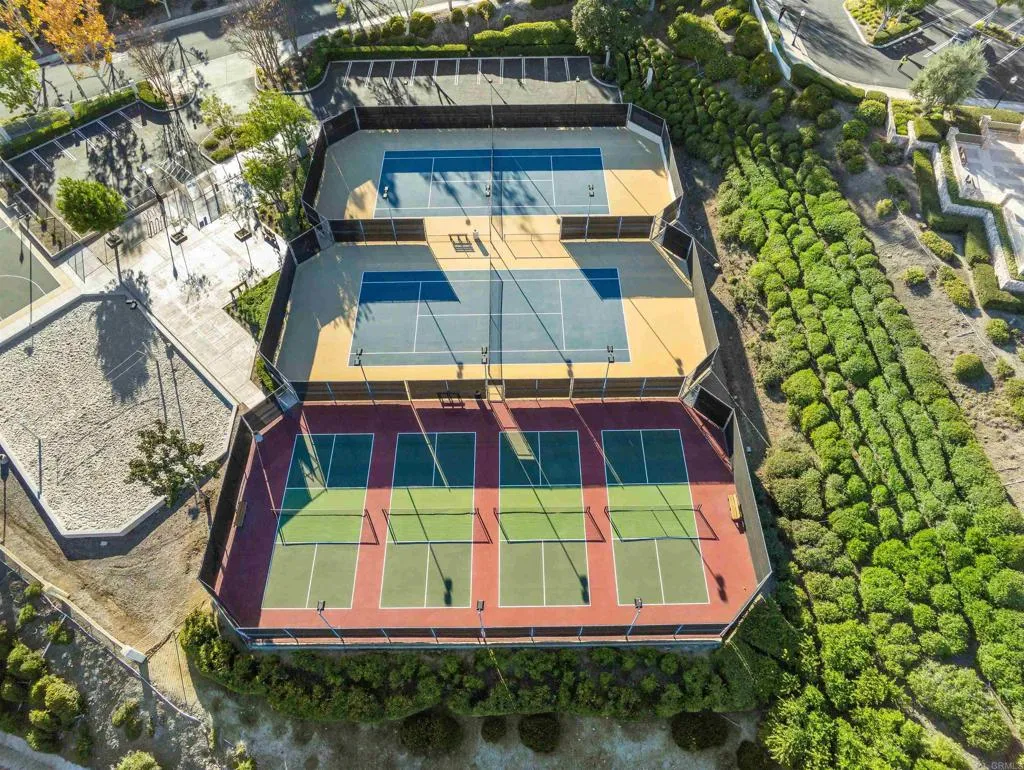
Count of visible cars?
one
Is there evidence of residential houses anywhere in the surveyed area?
No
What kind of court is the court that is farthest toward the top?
tennis court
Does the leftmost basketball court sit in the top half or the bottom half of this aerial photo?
top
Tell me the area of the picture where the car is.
top right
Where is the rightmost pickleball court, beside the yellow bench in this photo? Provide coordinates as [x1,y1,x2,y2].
[602,430,711,605]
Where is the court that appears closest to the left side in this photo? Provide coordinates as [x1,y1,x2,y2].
[0,196,78,333]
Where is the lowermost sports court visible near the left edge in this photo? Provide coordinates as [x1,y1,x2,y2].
[0,290,243,542]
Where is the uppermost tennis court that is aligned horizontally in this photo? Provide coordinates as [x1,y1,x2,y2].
[373,147,610,218]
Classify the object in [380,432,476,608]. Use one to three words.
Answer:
sports court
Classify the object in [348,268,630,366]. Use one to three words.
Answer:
tennis court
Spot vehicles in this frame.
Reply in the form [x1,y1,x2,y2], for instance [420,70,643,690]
[953,22,986,44]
